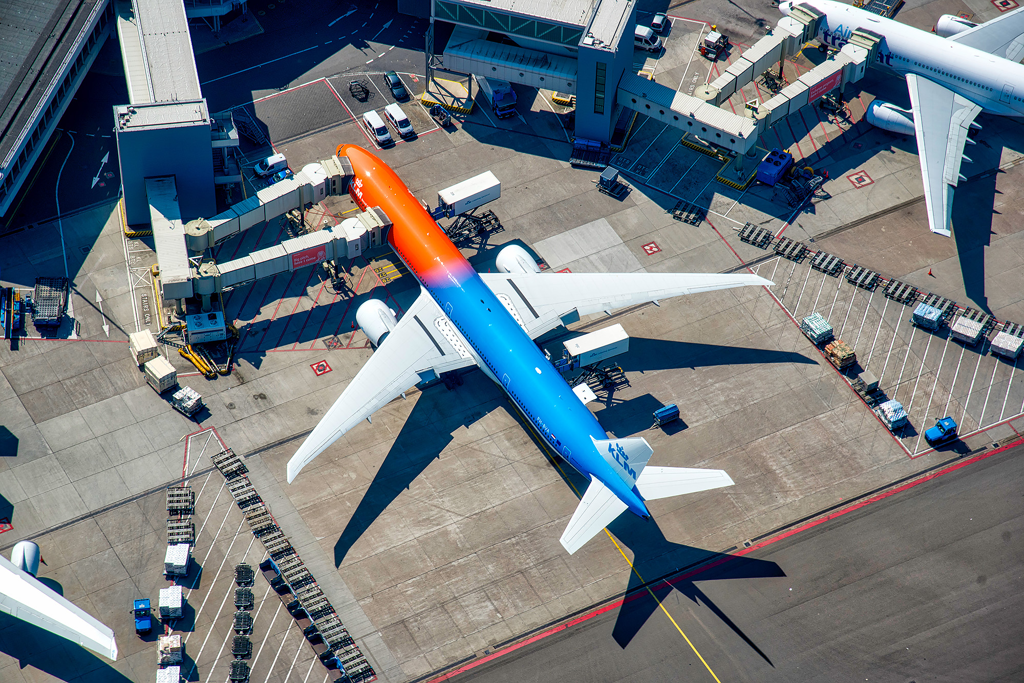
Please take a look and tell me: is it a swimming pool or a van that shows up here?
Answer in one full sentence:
I can see a van in this picture.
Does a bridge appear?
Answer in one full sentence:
Yes, there is a bridge in the image.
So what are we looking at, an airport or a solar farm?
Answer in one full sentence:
What you see here is an airport.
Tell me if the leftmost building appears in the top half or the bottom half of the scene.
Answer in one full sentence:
The top half of the photo is where the leftmost building is.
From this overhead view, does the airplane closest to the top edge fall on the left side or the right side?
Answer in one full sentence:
The airplane closest to the top edge sits on the right side.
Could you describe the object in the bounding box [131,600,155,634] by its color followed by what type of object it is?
blue work vehicle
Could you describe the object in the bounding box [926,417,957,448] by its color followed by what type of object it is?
blue work vehicle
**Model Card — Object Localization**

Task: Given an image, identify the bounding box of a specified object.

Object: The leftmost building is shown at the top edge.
[0,0,115,214]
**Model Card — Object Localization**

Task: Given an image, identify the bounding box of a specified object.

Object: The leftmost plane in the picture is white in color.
[0,542,117,661]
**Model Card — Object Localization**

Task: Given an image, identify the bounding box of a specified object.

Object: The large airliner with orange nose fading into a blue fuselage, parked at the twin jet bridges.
[287,148,774,555]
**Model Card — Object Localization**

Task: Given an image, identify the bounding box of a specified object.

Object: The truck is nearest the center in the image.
[550,324,629,398]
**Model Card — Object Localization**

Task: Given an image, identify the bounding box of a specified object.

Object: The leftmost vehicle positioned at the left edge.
[0,284,22,336]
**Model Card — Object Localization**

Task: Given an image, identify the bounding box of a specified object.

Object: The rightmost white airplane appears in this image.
[779,0,1024,230]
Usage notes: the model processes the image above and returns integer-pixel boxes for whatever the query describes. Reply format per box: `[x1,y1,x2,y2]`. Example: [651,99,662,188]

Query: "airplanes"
[779,0,1024,230]
[287,148,774,555]
[0,542,117,661]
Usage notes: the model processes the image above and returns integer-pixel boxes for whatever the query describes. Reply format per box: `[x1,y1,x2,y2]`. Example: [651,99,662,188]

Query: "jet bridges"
[184,152,360,260]
[190,205,394,314]
[693,0,836,111]
[741,26,895,152]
